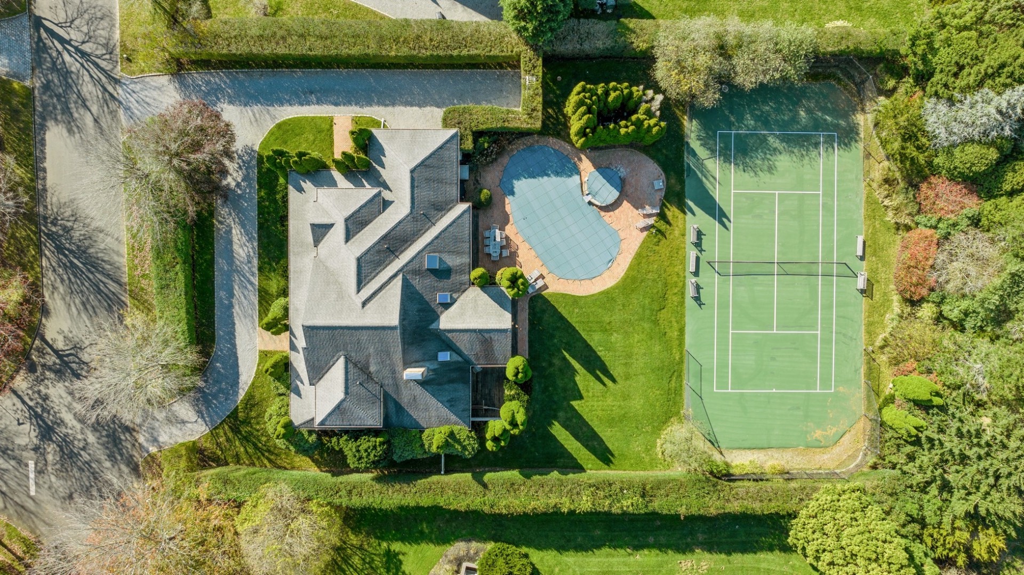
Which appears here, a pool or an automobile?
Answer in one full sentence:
Visible in the photo is a pool.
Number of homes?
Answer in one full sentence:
Only 1 home is visible.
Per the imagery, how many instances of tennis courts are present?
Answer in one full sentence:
I count 1 tennis court.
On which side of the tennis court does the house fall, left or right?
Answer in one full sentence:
The house is to the left of the tennis court.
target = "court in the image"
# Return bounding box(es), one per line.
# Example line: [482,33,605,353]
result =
[685,81,863,448]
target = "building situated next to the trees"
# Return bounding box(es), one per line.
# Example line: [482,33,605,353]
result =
[288,128,512,429]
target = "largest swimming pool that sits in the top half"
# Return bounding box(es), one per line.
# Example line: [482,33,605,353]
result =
[495,139,626,286]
